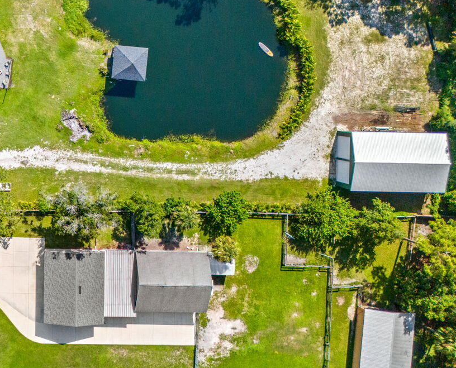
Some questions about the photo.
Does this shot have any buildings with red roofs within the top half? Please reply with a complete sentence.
No, I see no building with a red roof within the top half.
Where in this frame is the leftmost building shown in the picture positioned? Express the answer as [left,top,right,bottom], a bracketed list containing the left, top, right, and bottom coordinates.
[42,249,104,327]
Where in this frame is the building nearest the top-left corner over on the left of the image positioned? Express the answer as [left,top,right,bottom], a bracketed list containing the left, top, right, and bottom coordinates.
[110,45,149,81]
